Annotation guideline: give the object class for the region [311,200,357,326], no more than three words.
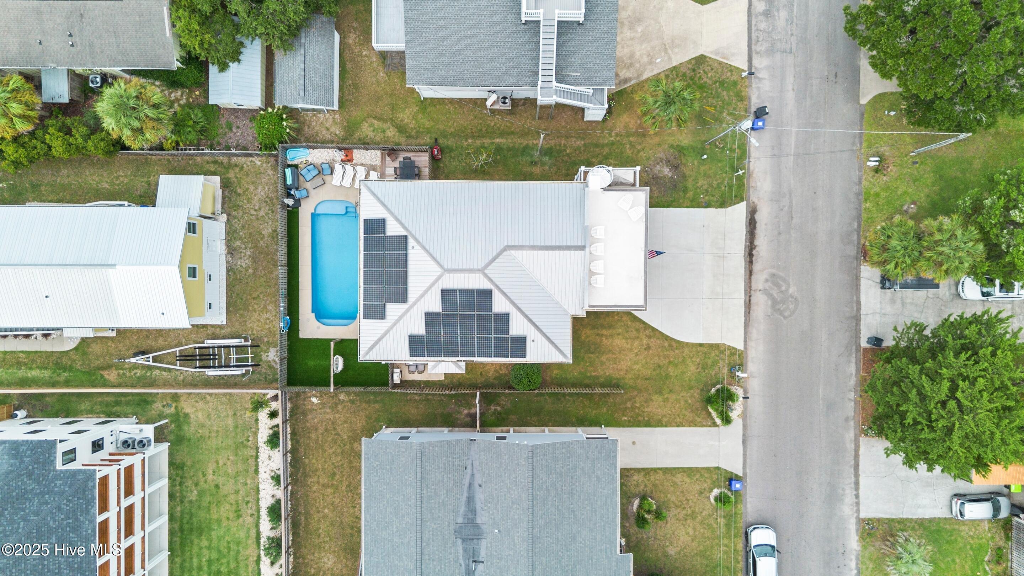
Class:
swimming pool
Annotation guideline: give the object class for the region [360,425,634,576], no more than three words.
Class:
house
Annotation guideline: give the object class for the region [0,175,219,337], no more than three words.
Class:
house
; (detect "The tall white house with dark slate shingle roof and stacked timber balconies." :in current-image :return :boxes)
[0,414,174,576]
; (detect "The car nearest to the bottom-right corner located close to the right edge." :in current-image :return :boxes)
[948,492,1008,523]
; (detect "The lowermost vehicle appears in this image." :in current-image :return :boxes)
[745,524,781,576]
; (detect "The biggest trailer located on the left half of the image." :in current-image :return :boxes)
[114,335,258,380]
